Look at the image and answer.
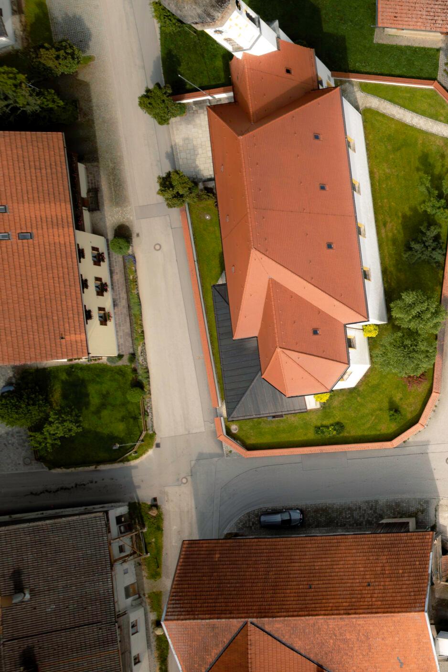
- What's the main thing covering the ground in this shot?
buildings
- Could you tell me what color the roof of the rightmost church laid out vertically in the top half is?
orange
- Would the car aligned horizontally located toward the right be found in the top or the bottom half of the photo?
bottom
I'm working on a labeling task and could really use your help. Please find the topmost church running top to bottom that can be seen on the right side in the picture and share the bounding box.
[160,0,386,421]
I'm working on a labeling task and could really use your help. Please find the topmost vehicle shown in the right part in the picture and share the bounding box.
[258,506,307,529]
